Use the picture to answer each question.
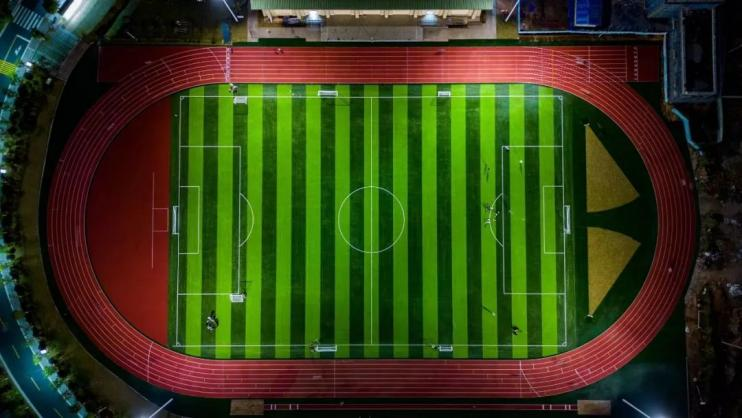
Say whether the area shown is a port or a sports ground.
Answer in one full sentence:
The picture captures a sports ground.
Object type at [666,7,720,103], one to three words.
building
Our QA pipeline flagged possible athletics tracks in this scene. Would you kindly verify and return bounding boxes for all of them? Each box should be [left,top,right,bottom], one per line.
[47,46,695,398]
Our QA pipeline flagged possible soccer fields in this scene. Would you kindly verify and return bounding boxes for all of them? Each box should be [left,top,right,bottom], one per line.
[167,85,575,358]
